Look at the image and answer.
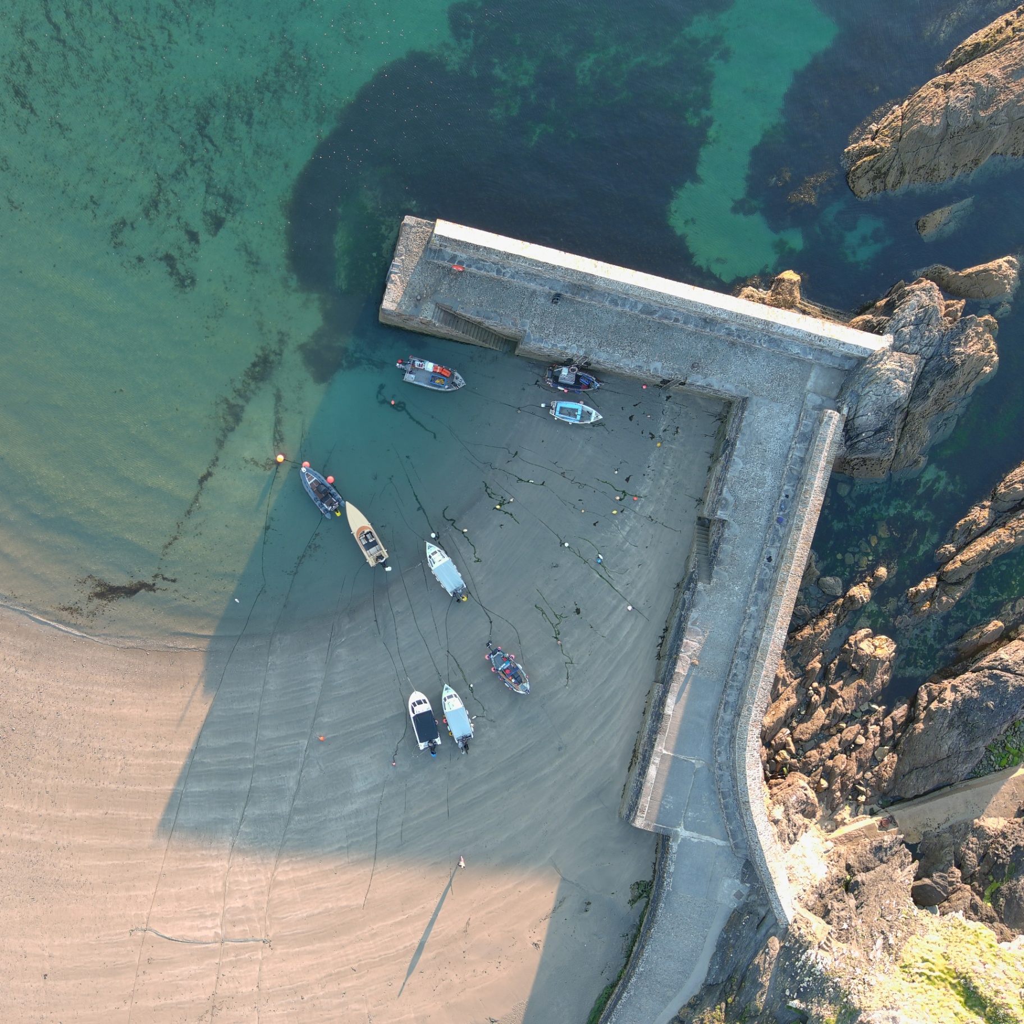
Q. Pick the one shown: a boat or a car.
boat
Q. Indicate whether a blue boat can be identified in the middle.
Yes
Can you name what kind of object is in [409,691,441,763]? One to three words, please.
boat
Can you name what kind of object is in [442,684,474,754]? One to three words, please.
boat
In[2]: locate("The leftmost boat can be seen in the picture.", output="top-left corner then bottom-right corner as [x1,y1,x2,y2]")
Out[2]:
[301,464,348,523]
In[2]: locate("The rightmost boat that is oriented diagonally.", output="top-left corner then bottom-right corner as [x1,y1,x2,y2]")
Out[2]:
[481,641,531,694]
